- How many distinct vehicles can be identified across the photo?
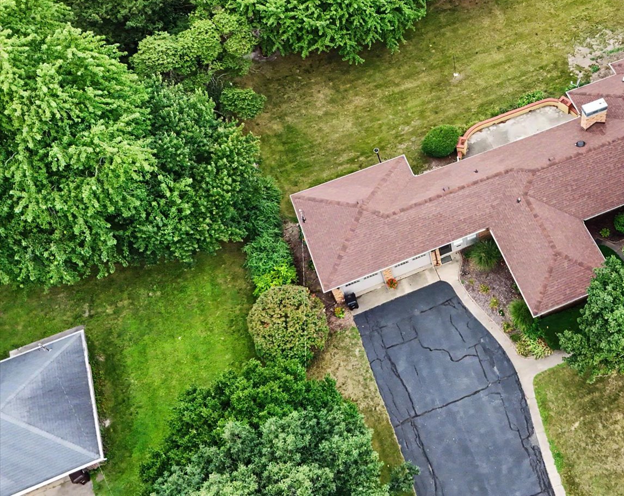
none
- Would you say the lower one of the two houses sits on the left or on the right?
left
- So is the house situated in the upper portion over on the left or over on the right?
right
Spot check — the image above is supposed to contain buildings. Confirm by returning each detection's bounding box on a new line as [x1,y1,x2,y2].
[290,58,624,321]
[0,326,112,496]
